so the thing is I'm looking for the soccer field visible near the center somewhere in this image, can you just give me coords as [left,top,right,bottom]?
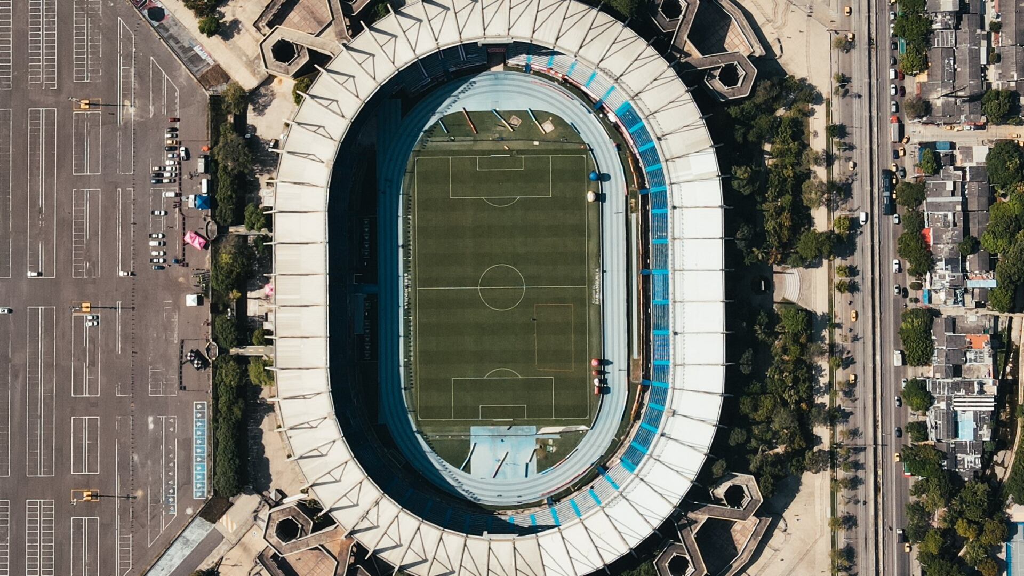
[415,147,590,426]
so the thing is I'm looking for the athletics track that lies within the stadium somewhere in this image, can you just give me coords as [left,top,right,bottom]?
[377,71,642,505]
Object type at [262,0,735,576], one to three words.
stadium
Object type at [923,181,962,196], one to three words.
house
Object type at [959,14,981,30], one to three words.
house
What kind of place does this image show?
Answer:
sports ground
